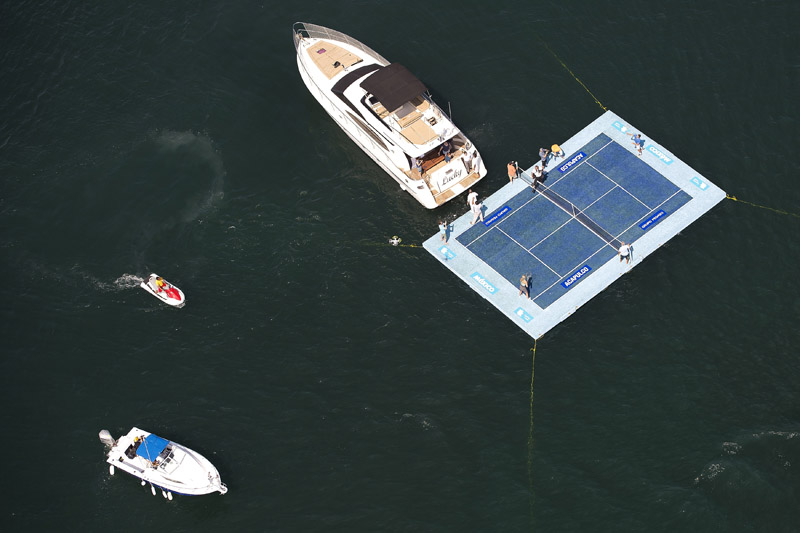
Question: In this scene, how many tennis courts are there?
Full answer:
My tally gives 1 tennis court in this photo.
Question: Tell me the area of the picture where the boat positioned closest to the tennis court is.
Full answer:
The boat positioned closest to the tennis court appears toward the top of the photo.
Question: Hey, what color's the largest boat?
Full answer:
The largest boat is white.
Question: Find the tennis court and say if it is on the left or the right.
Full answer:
It is on the right.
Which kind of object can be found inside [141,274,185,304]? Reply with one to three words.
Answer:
boat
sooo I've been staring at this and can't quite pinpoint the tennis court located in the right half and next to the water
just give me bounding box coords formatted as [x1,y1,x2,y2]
[423,110,727,339]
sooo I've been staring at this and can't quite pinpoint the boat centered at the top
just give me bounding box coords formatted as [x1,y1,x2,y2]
[290,23,488,210]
